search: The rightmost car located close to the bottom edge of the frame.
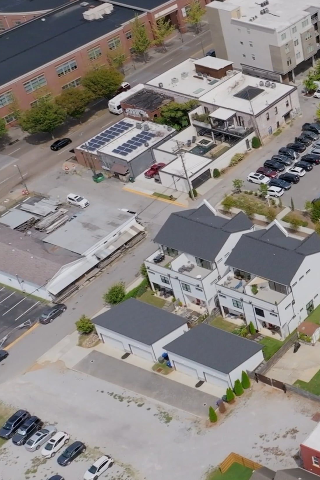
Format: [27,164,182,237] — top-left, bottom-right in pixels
[84,456,115,480]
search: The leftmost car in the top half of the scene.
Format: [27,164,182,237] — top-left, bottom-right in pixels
[49,140,73,152]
